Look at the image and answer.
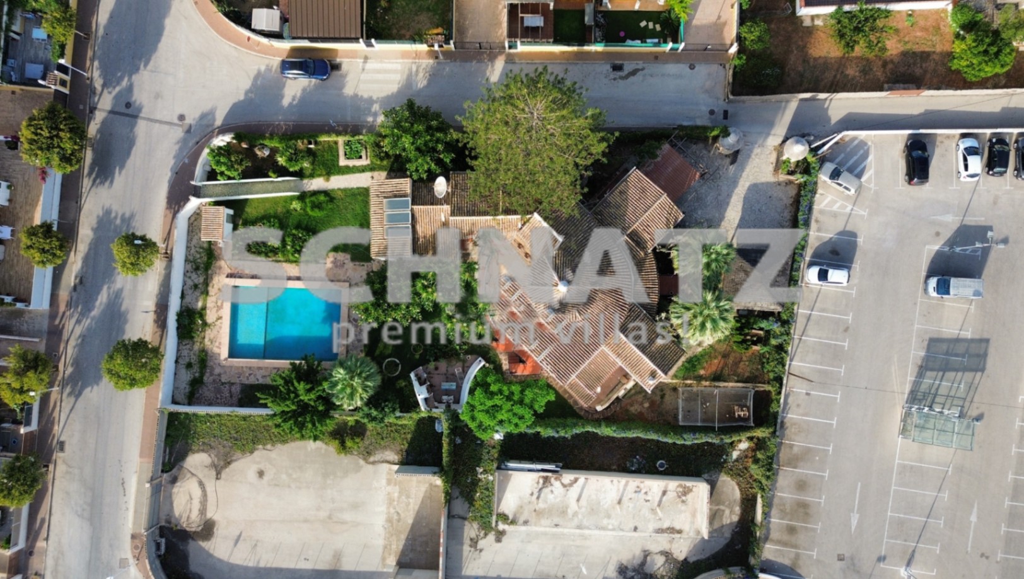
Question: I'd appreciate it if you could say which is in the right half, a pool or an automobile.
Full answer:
There is an automobile in the right half.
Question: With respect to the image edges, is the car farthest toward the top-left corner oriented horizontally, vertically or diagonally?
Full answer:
The car farthest toward the top-left corner is laid out horizontally.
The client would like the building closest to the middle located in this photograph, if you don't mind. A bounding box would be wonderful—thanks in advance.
[369,166,686,412]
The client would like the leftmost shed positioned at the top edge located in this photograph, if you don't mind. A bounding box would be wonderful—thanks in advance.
[252,8,282,36]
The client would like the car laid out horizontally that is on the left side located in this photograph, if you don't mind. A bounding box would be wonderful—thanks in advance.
[281,58,334,83]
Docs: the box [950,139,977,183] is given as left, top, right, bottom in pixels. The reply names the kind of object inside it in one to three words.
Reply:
car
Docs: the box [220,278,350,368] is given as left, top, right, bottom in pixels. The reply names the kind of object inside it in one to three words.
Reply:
swimming pool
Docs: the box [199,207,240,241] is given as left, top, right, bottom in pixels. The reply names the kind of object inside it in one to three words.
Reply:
shed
